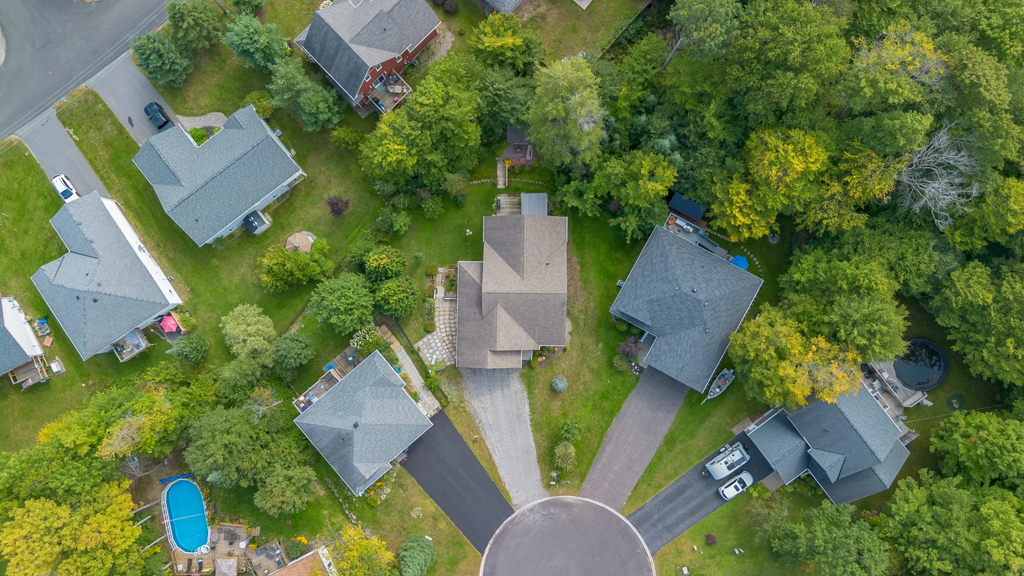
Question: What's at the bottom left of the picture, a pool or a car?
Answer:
pool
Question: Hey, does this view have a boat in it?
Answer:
Yes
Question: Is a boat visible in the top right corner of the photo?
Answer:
No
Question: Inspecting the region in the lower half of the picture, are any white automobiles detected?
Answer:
Yes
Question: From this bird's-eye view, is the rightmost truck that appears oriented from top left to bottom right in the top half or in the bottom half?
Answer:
top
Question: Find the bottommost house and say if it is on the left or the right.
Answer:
left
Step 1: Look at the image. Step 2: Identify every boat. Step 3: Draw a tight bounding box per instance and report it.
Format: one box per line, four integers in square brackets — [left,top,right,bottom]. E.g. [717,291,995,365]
[701,368,738,407]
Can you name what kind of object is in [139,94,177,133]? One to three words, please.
truck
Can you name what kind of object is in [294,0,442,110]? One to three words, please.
house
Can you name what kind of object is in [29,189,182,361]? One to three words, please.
house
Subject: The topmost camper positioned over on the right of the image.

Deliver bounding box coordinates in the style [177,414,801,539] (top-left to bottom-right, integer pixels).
[699,440,750,479]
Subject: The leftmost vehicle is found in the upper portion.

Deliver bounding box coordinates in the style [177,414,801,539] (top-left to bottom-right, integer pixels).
[53,175,81,203]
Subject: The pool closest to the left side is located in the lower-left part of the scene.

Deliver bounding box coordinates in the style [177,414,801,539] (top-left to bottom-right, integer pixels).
[160,477,212,553]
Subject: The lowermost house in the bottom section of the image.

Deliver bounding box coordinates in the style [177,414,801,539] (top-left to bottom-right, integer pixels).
[261,542,343,576]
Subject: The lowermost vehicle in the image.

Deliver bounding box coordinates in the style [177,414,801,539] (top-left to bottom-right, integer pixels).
[716,470,755,502]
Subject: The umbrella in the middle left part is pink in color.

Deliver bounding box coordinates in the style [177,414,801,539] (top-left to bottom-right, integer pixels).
[159,315,178,333]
